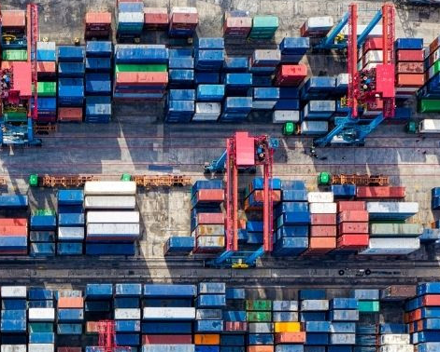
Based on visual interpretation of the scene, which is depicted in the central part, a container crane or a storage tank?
container crane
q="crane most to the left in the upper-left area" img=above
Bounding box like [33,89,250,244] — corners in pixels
[0,0,40,143]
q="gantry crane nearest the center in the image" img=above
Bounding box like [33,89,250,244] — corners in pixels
[206,128,275,267]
